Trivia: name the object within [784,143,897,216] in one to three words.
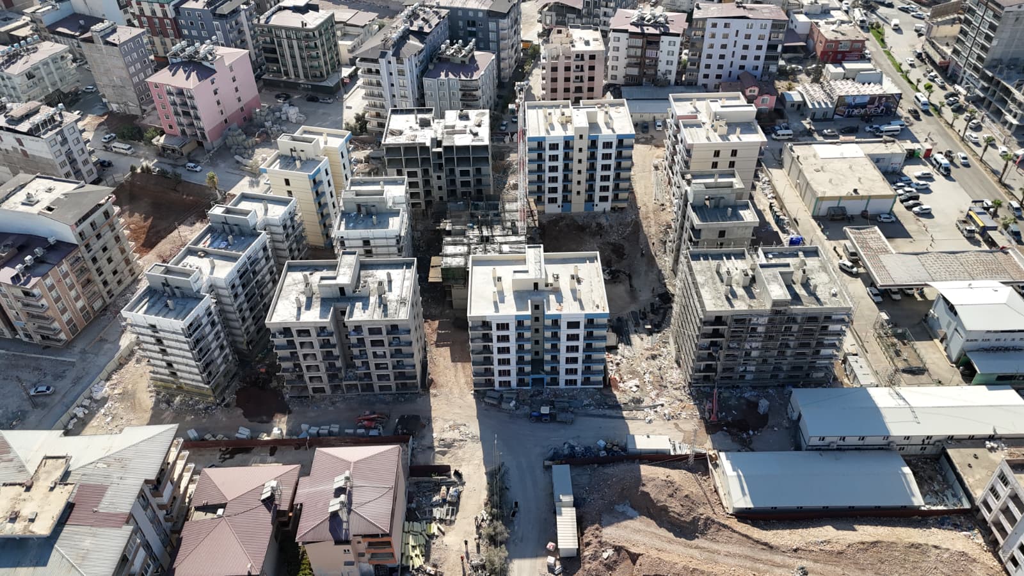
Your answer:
building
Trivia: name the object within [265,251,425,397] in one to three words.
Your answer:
building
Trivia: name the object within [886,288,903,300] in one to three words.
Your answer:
vehicle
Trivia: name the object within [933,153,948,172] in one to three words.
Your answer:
vehicle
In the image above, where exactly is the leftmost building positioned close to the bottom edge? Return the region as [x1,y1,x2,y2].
[0,422,216,576]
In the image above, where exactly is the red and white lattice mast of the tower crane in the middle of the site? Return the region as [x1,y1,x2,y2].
[514,60,530,253]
